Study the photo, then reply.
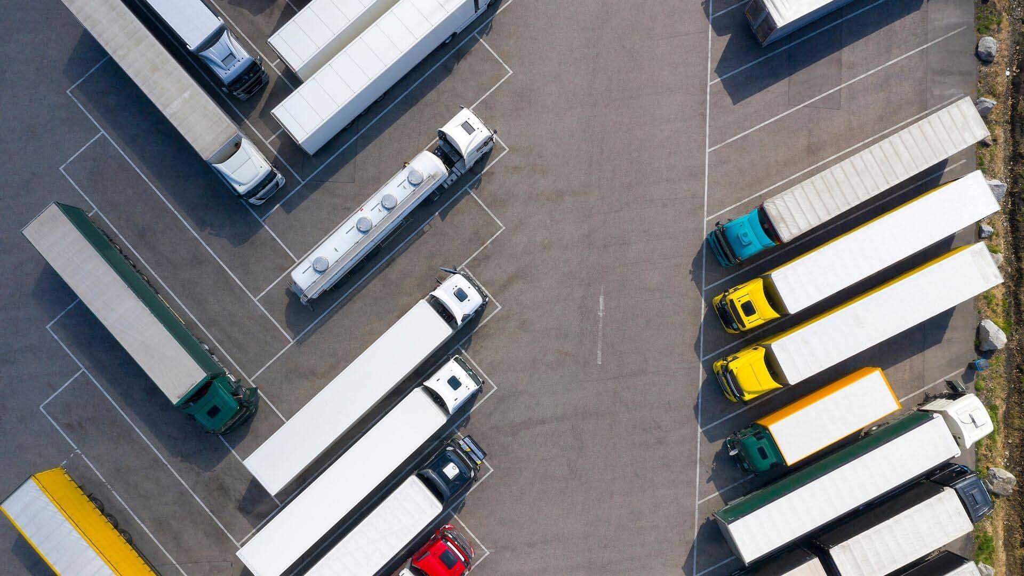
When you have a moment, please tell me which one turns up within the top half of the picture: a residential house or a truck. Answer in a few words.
truck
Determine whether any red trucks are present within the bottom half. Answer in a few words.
Yes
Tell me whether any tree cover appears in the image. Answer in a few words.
No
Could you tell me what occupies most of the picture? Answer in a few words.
paved ground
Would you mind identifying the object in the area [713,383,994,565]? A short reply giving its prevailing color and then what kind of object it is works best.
white truck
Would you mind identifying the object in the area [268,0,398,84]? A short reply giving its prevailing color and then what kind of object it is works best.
white truck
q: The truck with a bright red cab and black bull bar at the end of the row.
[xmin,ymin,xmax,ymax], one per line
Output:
[392,523,476,576]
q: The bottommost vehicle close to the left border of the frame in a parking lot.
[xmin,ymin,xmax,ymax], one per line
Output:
[0,467,163,576]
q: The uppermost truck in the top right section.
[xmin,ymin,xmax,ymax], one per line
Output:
[742,0,855,47]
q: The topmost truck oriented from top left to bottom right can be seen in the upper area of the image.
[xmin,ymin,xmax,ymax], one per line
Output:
[146,0,273,99]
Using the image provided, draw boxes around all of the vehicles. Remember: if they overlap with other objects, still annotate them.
[268,0,398,84]
[238,352,485,576]
[0,467,163,576]
[392,523,476,576]
[246,264,491,496]
[742,0,855,47]
[707,97,990,270]
[713,242,1004,406]
[302,433,488,576]
[62,0,288,203]
[271,0,484,157]
[146,0,273,99]
[284,107,497,316]
[725,368,901,480]
[21,201,261,441]
[881,548,981,576]
[713,170,1000,338]
[713,383,994,565]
